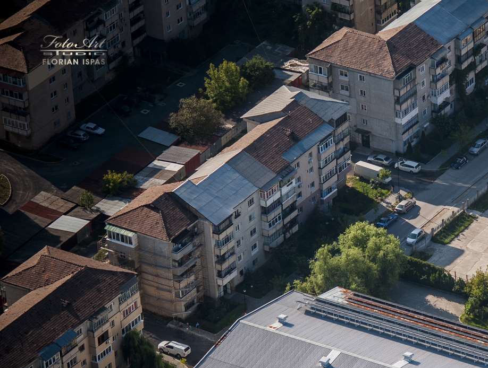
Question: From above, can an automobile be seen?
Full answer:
Yes, the image includes an automobile.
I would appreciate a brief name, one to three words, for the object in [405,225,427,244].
car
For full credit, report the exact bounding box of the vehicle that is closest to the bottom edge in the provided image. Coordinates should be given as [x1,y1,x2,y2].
[158,340,191,357]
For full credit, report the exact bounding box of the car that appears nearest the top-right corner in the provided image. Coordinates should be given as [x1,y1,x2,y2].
[468,137,488,153]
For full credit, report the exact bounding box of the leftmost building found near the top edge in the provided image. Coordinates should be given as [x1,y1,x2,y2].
[0,0,242,143]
